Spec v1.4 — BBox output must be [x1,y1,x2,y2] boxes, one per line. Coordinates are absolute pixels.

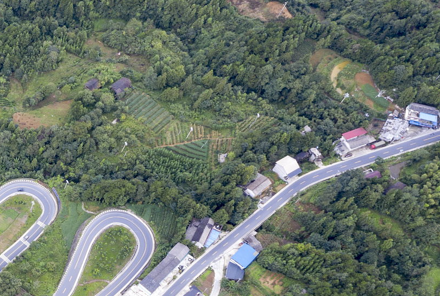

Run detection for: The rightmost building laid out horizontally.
[402,111,438,133]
